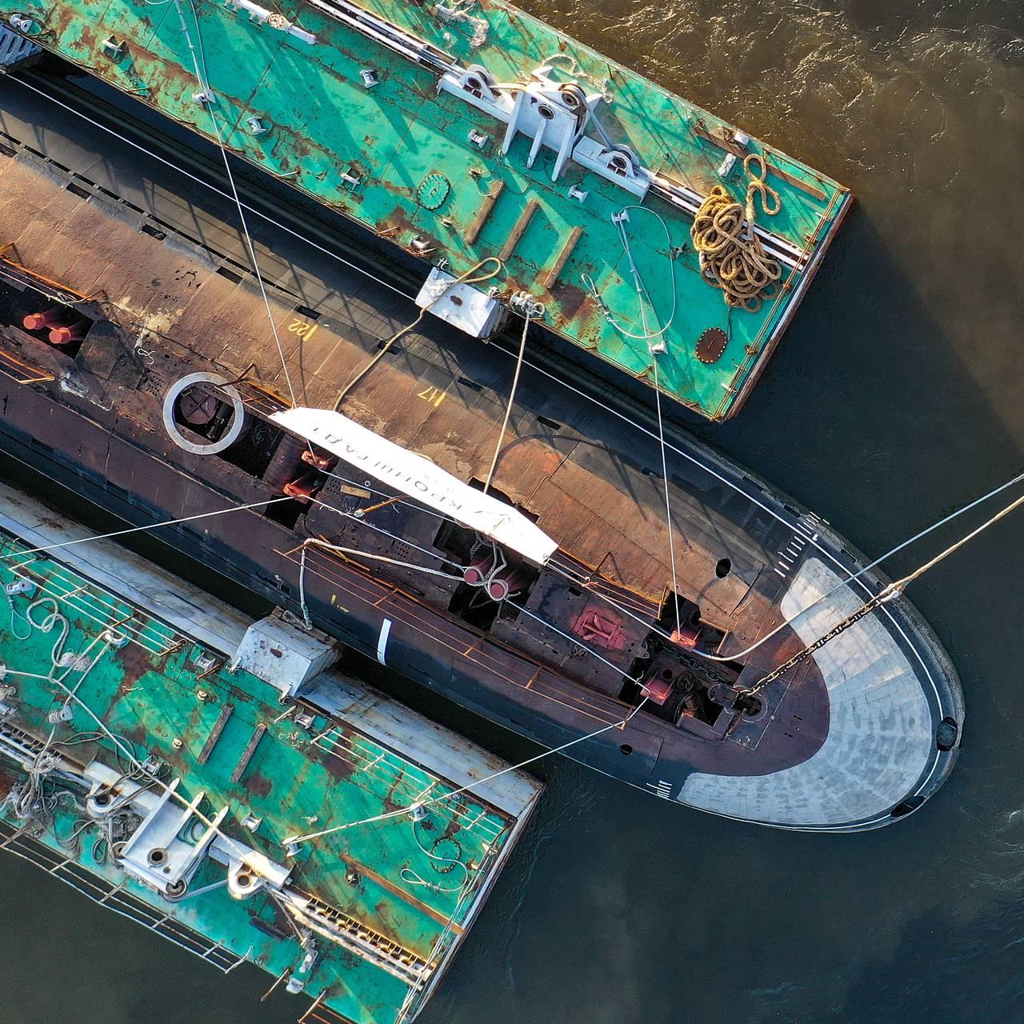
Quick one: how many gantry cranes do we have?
none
